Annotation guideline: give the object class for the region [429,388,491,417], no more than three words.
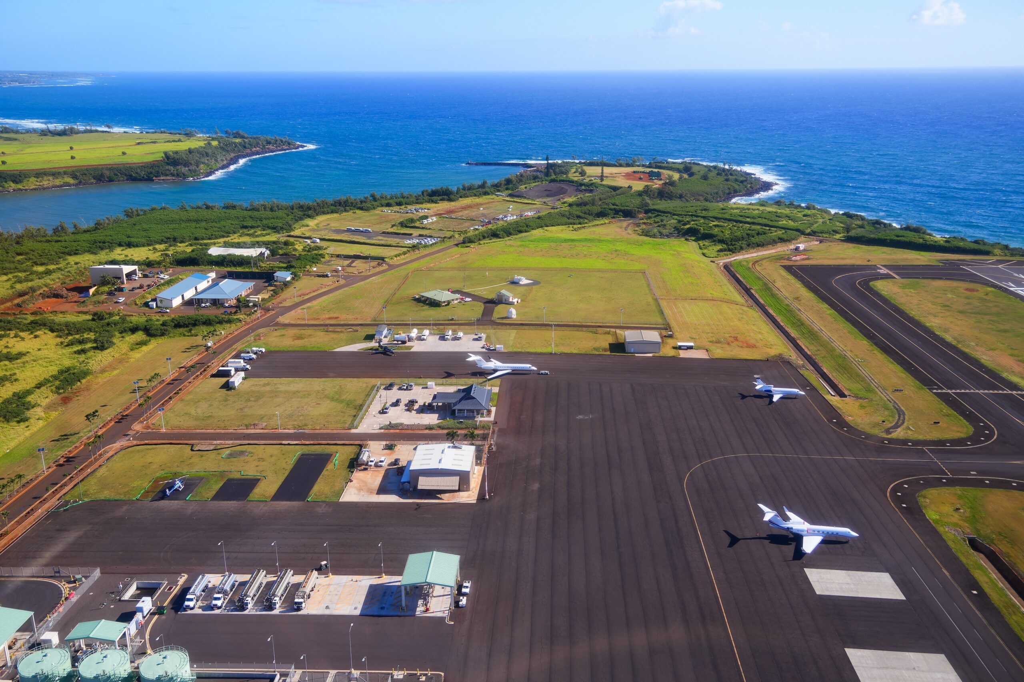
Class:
building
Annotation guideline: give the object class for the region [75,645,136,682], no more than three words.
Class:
storage tank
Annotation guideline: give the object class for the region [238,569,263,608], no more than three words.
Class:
truck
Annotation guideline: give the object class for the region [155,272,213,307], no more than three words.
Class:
shed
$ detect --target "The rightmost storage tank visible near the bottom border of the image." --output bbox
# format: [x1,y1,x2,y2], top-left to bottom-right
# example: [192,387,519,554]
[137,647,195,682]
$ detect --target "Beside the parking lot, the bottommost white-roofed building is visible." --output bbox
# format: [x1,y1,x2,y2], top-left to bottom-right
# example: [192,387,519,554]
[403,440,477,491]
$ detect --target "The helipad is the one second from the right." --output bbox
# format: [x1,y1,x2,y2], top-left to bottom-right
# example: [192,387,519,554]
[210,479,260,501]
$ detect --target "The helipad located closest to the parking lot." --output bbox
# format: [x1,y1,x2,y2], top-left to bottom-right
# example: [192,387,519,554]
[270,454,333,502]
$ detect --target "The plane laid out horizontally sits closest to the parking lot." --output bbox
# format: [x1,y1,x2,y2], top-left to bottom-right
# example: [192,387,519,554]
[464,354,537,378]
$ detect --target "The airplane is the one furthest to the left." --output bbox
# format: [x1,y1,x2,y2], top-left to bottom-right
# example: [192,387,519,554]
[372,340,396,355]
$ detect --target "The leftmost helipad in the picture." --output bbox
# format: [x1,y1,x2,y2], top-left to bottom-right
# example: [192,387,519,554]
[157,477,204,501]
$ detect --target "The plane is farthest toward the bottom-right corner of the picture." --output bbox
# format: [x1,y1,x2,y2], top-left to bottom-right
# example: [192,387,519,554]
[764,505,859,550]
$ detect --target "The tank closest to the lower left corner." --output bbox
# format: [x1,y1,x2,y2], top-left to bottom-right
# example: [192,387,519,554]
[14,644,76,682]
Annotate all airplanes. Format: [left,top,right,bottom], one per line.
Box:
[757,379,805,400]
[764,505,859,550]
[372,340,396,355]
[464,354,537,378]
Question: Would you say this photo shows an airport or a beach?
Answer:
airport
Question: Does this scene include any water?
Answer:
Yes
